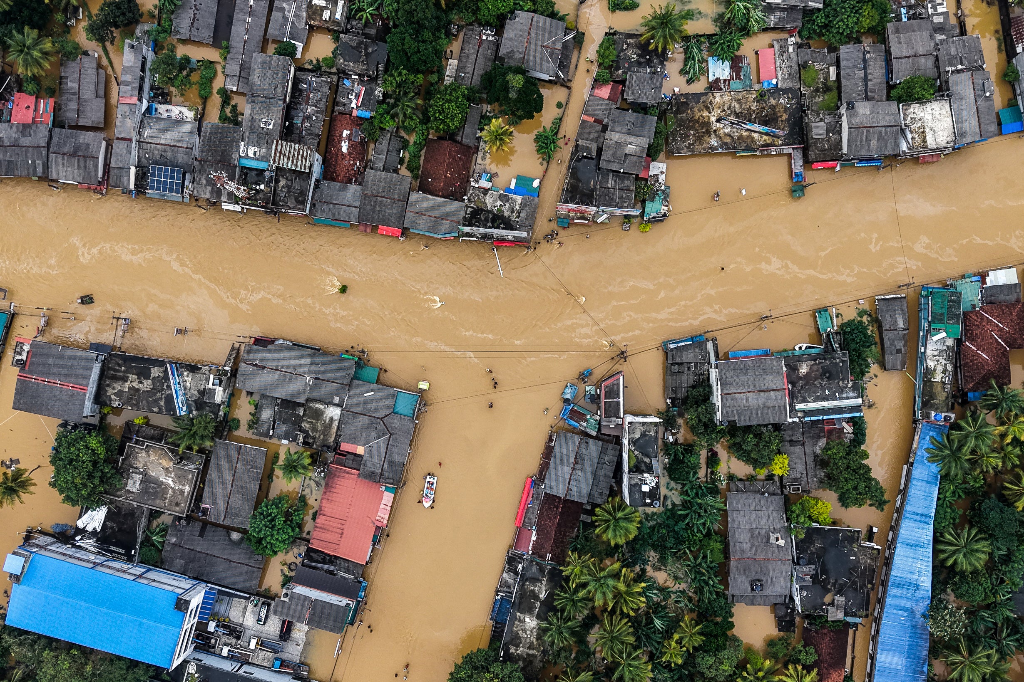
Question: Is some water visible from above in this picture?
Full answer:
Yes, the picture does contain water.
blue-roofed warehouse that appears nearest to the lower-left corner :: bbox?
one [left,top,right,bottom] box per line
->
[4,540,209,669]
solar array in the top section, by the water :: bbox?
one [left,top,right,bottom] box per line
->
[148,164,185,194]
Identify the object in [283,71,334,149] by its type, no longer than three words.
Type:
house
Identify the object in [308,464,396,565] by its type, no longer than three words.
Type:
building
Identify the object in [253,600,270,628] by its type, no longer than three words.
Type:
vehicle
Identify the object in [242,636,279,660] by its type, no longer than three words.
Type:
truck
